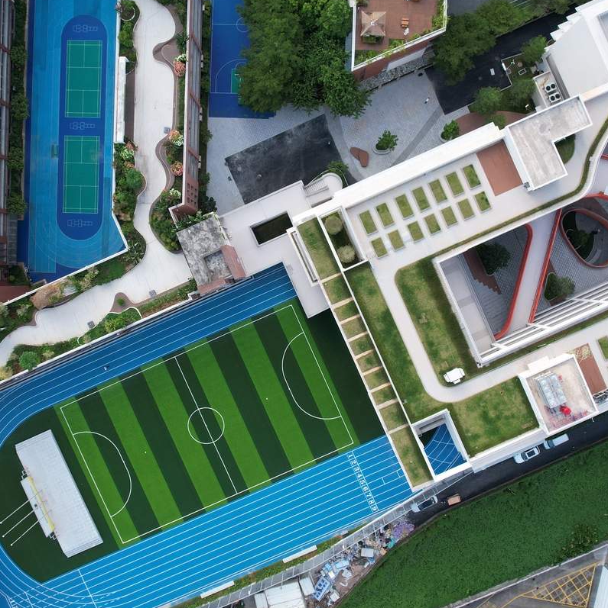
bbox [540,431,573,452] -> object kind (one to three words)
vehicle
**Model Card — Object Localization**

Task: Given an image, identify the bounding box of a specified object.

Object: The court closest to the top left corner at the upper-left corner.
[65,40,102,116]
